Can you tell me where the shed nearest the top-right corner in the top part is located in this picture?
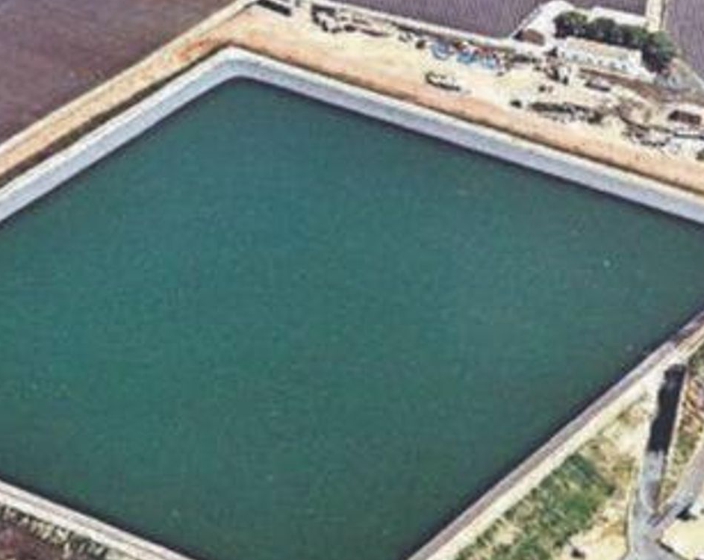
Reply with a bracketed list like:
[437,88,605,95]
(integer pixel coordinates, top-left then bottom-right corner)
[591,4,654,29]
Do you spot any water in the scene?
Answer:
Yes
